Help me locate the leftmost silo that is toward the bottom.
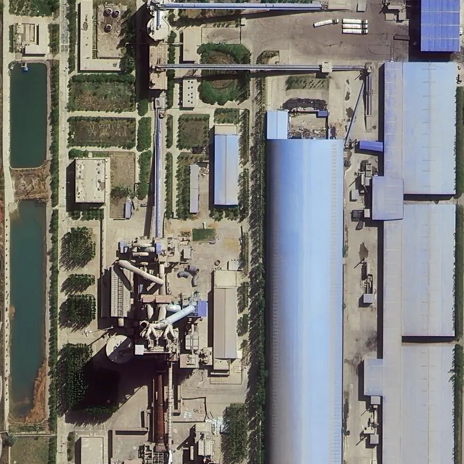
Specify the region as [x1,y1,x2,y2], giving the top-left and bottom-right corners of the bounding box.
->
[105,335,134,363]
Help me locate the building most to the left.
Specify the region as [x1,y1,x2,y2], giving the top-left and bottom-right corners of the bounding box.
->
[14,23,45,53]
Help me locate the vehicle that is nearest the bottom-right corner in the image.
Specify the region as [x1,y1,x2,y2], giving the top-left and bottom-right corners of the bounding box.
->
[364,405,378,438]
